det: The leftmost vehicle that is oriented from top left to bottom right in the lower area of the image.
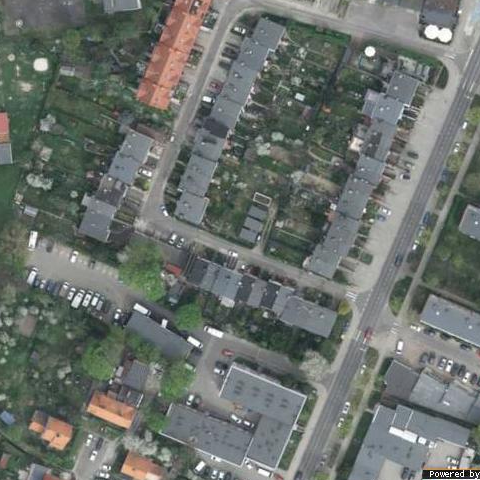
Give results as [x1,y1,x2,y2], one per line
[132,302,149,315]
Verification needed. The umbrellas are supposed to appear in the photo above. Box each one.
[365,47,376,58]
[425,26,439,40]
[437,28,452,43]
